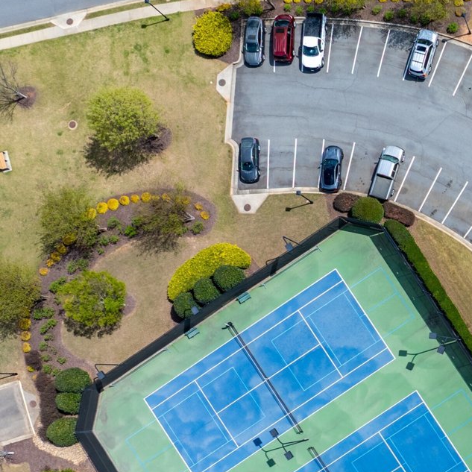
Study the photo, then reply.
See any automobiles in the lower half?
No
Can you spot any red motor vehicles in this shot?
Yes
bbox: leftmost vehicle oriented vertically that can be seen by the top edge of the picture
[241,15,266,66]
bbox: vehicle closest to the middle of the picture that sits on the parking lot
[237,136,261,184]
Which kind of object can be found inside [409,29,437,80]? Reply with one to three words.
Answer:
car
